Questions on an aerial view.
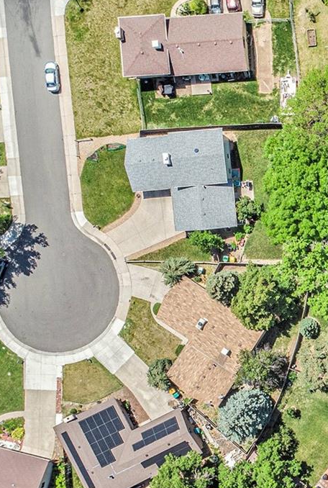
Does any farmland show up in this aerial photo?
No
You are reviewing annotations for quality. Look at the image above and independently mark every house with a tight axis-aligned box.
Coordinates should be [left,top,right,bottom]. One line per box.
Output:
[126,127,238,232]
[53,398,204,488]
[0,445,56,488]
[156,275,265,407]
[115,12,249,80]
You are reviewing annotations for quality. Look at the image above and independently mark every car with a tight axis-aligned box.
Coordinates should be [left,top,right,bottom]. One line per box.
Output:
[44,62,62,93]
[249,0,265,19]
[209,0,224,13]
[0,256,9,283]
[227,0,242,12]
